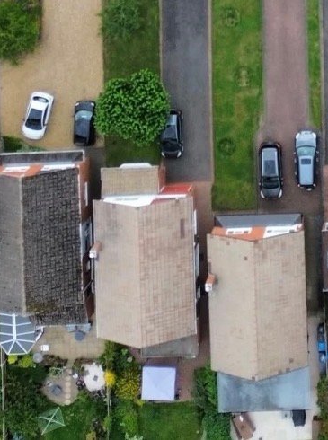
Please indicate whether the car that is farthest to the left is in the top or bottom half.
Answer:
top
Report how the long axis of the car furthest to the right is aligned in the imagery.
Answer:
vertically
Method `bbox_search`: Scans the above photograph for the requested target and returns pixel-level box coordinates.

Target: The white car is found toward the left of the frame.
[21,89,54,142]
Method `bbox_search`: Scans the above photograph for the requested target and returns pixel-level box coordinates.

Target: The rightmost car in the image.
[291,130,321,190]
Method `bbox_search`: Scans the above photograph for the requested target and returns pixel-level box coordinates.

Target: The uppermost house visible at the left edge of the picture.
[0,145,96,327]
